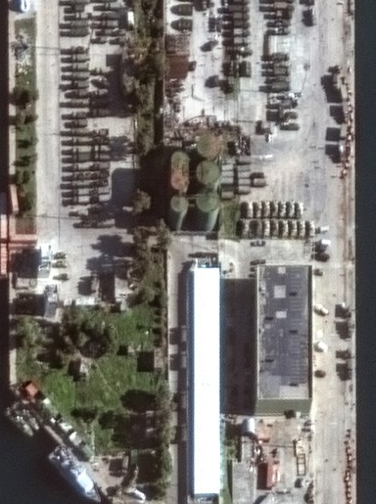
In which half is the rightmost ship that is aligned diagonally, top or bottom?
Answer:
bottom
